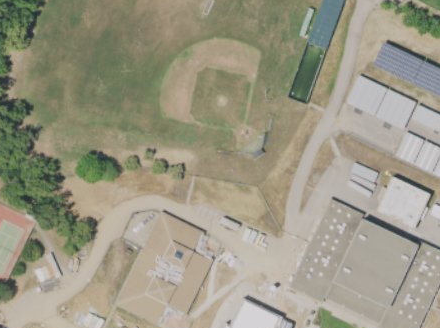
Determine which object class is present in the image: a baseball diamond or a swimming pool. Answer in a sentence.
There is a baseball diamond in the scene.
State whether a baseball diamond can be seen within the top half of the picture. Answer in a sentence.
Yes, looking within the top half of the picture, one can make out a baseball diamond.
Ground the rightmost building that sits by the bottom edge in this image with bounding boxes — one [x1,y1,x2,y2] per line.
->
[290,198,440,328]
